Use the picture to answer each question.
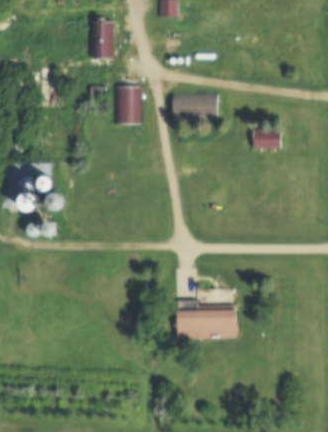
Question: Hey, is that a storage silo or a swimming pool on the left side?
storage silo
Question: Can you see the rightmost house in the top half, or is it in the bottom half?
top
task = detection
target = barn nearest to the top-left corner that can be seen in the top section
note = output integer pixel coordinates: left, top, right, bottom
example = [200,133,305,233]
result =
[92,15,114,58]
